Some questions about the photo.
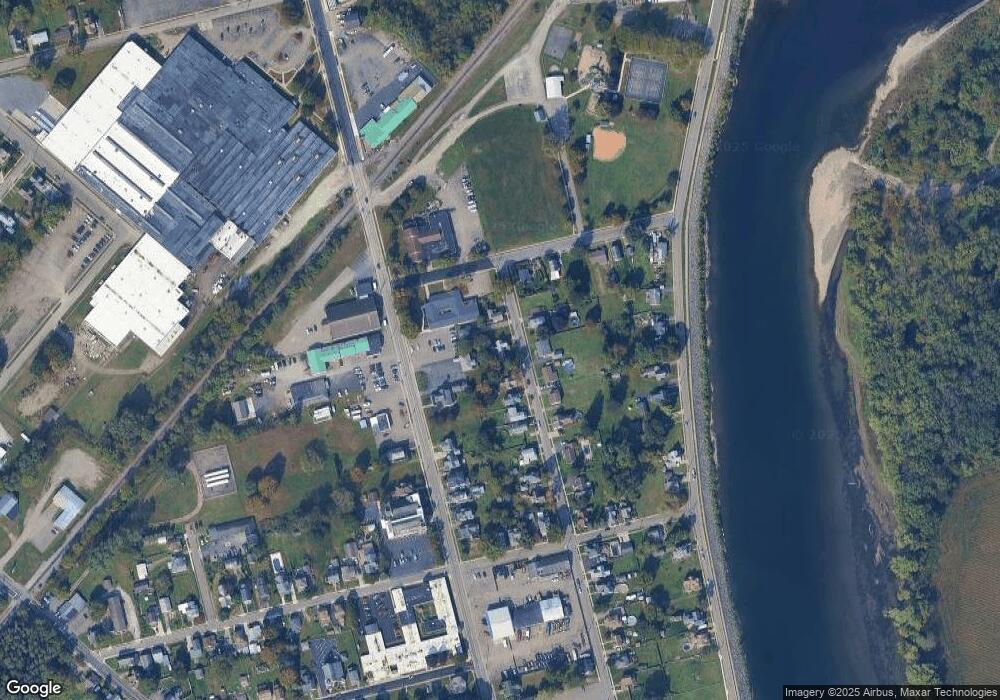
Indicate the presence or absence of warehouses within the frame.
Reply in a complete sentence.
Yes, this view includes a warehouse.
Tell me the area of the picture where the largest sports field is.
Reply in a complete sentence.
The largest sports field appears toward the top of the photo.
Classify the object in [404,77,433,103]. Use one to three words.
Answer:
building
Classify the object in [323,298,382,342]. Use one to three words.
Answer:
barn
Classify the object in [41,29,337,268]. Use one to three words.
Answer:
warehouse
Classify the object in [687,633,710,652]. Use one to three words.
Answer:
house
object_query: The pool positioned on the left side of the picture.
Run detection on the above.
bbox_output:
[271,552,284,573]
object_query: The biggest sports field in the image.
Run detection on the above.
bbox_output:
[446,109,574,249]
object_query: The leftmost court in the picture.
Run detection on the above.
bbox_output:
[545,26,573,58]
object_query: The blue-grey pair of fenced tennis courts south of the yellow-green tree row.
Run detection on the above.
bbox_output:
[625,59,667,103]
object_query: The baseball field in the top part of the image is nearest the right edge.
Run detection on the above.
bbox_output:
[591,124,627,161]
